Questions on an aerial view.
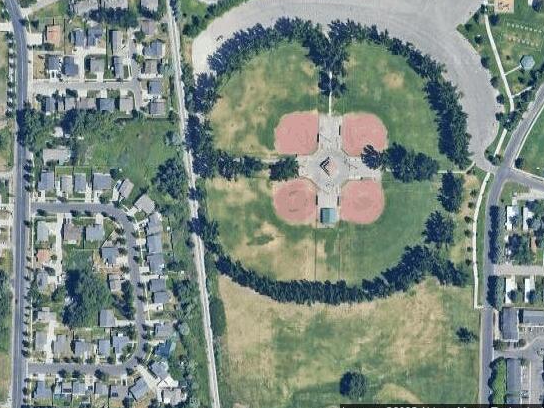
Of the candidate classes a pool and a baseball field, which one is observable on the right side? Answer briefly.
baseball field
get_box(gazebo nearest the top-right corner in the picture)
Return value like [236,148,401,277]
[522,55,535,69]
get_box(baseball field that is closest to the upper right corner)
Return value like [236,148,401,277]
[339,48,450,157]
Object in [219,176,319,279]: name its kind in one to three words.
baseball field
